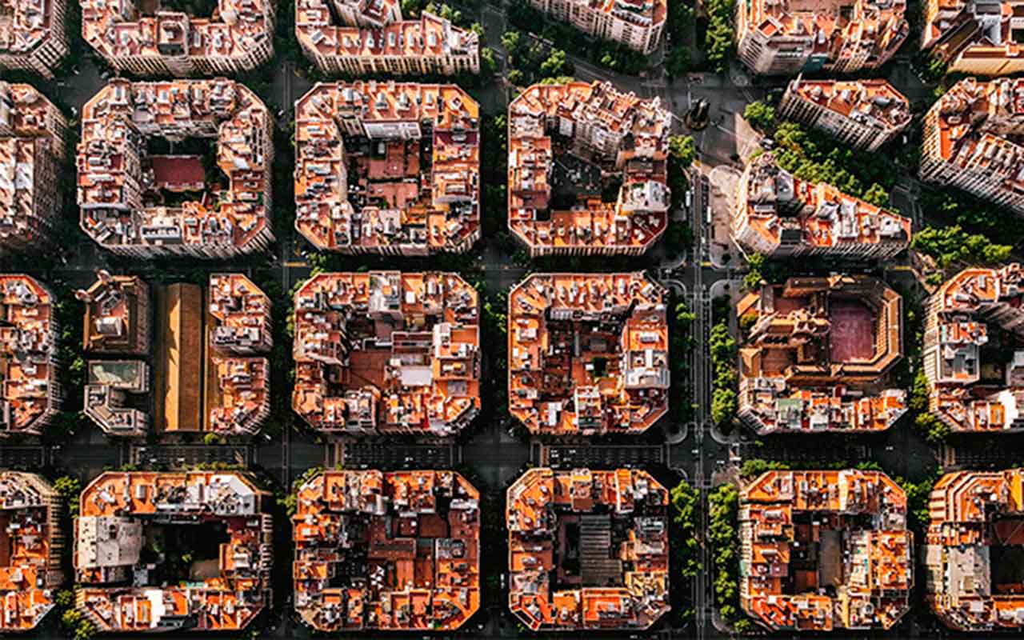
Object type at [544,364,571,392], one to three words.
shed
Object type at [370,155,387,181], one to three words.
shed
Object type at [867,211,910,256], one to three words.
building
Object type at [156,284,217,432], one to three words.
building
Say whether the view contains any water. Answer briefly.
No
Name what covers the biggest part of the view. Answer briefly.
buildings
